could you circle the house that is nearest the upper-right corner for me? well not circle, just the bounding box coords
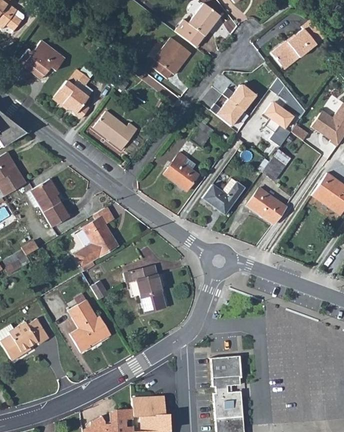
[269,23,318,68]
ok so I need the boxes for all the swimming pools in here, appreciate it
[241,150,254,162]
[0,205,12,224]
